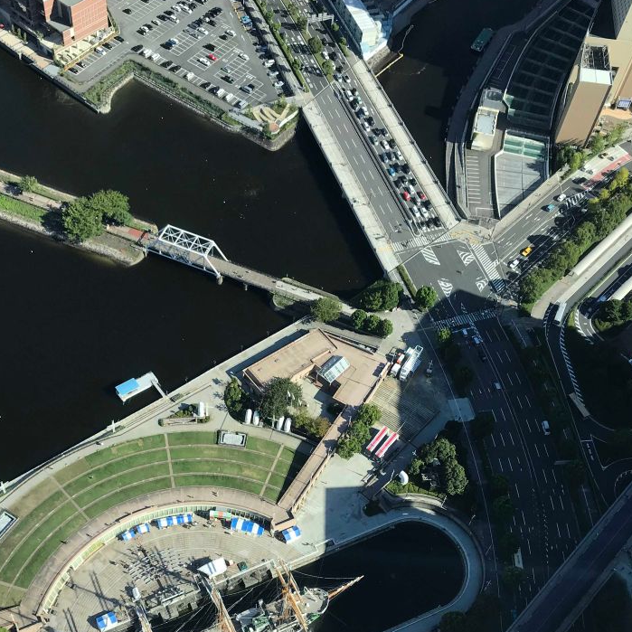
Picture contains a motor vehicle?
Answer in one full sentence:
Yes, a motor vehicle appears in the view.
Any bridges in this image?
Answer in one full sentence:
Yes, I can see a bridge in this picture.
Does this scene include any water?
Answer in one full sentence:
Yes, water shows up in the scene.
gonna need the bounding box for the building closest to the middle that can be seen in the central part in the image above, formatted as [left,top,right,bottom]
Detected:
[243,328,390,414]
